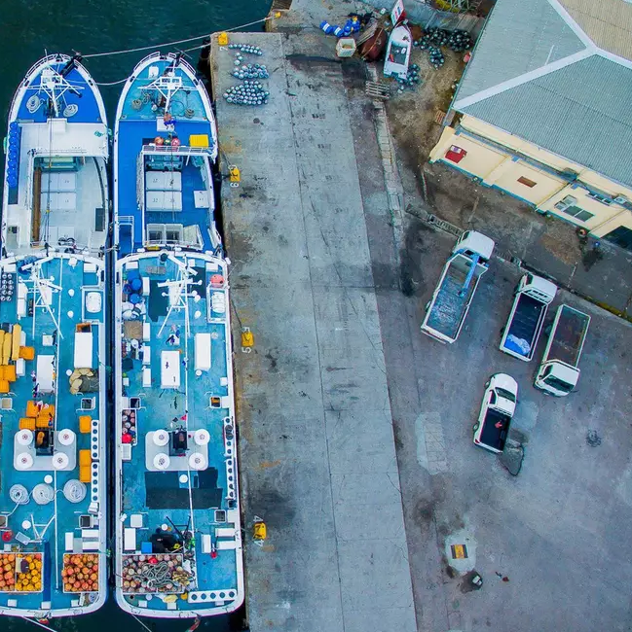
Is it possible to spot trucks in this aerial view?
Yes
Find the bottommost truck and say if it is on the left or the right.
right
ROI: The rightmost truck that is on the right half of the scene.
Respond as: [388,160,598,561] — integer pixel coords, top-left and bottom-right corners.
[529,307,590,403]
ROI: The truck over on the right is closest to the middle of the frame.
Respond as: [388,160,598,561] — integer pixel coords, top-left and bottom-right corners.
[418,230,497,347]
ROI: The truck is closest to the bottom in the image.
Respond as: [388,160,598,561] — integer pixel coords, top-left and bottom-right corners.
[469,373,518,460]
